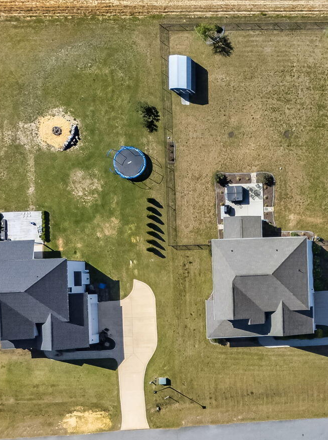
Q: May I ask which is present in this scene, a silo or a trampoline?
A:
trampoline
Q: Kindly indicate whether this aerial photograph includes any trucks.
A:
No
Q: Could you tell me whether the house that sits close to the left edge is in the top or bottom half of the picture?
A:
bottom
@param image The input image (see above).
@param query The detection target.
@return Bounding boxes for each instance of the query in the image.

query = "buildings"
[206,215,317,339]
[0,240,98,352]
[170,54,197,105]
